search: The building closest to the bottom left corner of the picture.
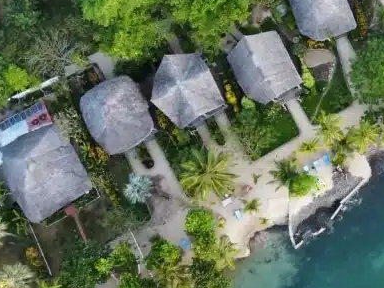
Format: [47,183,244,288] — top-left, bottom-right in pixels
[0,99,93,227]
